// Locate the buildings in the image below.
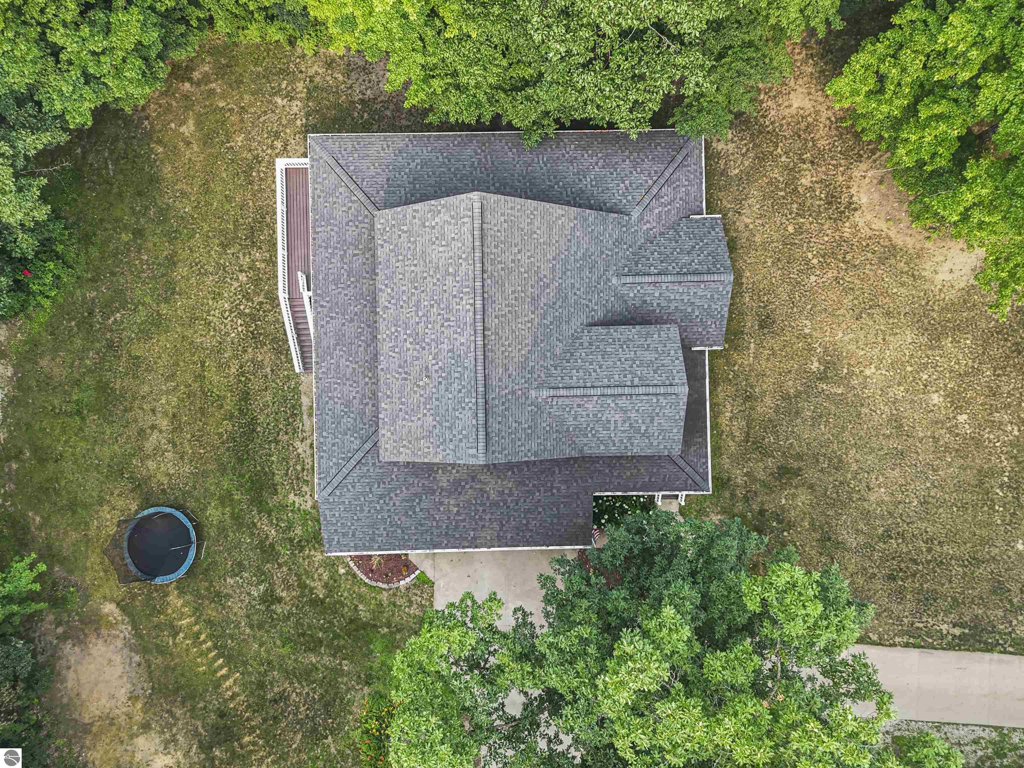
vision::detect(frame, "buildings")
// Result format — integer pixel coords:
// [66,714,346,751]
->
[308,125,734,556]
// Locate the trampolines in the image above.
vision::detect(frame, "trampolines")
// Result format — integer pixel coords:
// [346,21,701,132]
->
[99,506,205,591]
